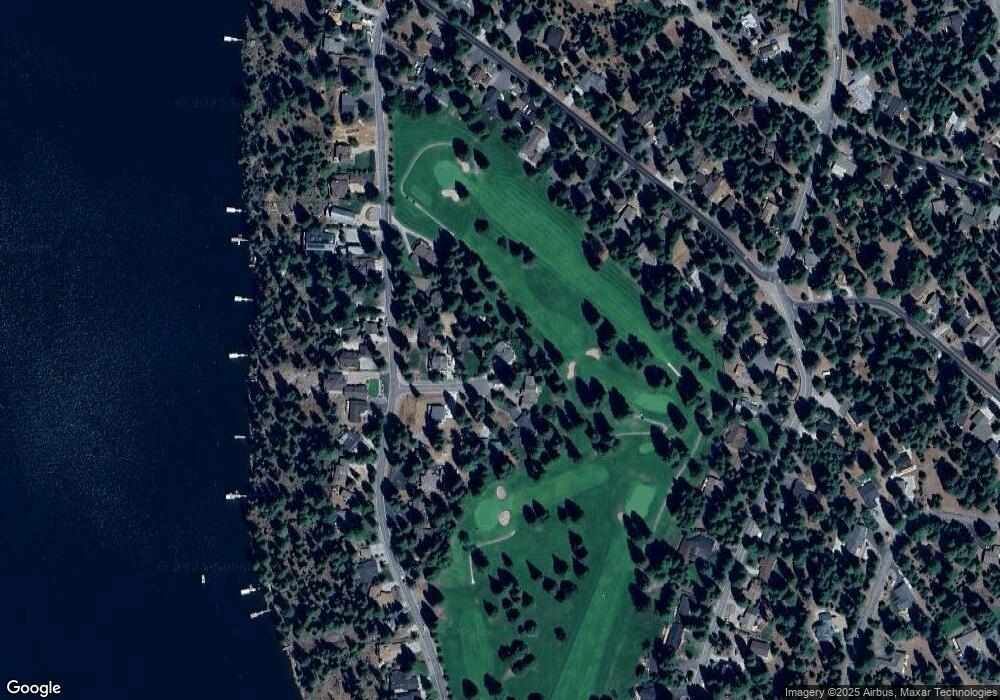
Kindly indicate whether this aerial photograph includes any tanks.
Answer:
No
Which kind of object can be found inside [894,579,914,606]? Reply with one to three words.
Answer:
house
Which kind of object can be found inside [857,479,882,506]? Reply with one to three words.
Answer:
house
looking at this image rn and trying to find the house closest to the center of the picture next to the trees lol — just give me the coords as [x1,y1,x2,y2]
[493,339,517,363]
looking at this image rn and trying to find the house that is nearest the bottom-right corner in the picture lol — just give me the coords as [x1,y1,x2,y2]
[953,629,985,655]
